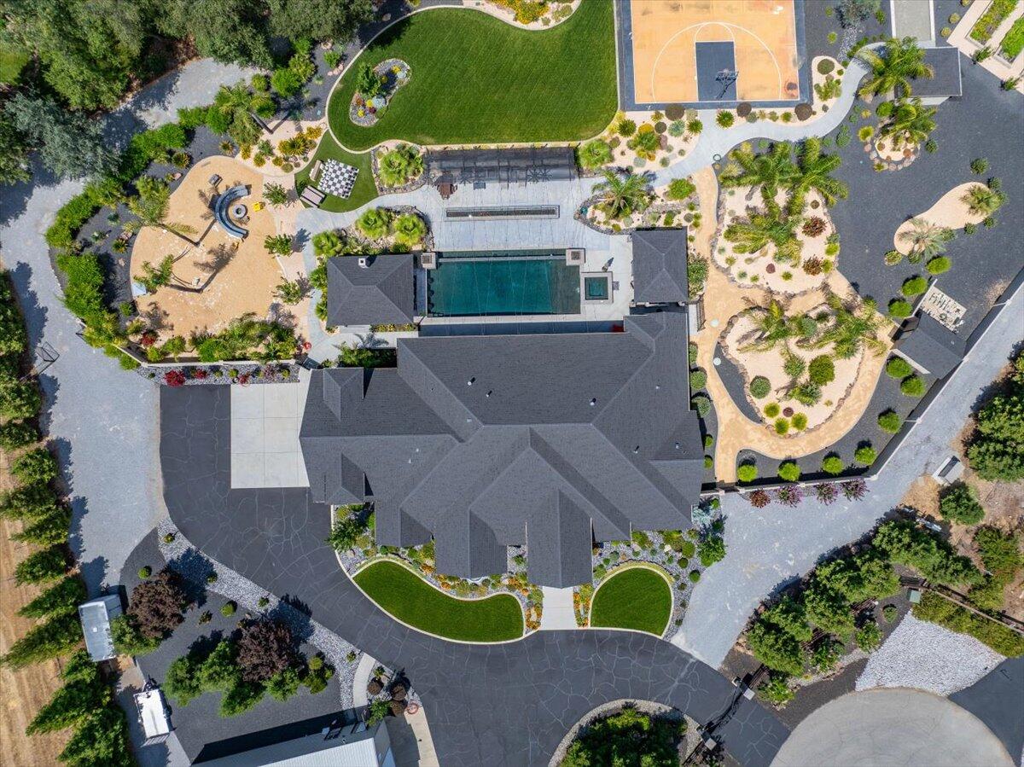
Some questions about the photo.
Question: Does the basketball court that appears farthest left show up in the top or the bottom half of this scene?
top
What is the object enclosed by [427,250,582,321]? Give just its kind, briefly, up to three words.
swimming pool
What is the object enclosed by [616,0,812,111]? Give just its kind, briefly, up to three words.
basketball court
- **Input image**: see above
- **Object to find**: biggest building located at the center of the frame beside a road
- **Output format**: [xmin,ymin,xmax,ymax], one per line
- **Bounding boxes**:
[299,313,703,588]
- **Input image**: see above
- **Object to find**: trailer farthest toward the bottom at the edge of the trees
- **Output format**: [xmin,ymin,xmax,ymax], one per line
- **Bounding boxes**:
[133,676,173,745]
